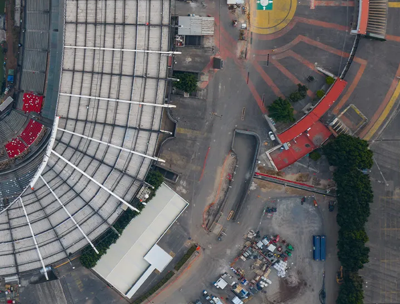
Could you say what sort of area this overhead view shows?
sports ground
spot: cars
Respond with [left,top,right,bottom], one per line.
[233,19,238,28]
[268,131,276,141]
